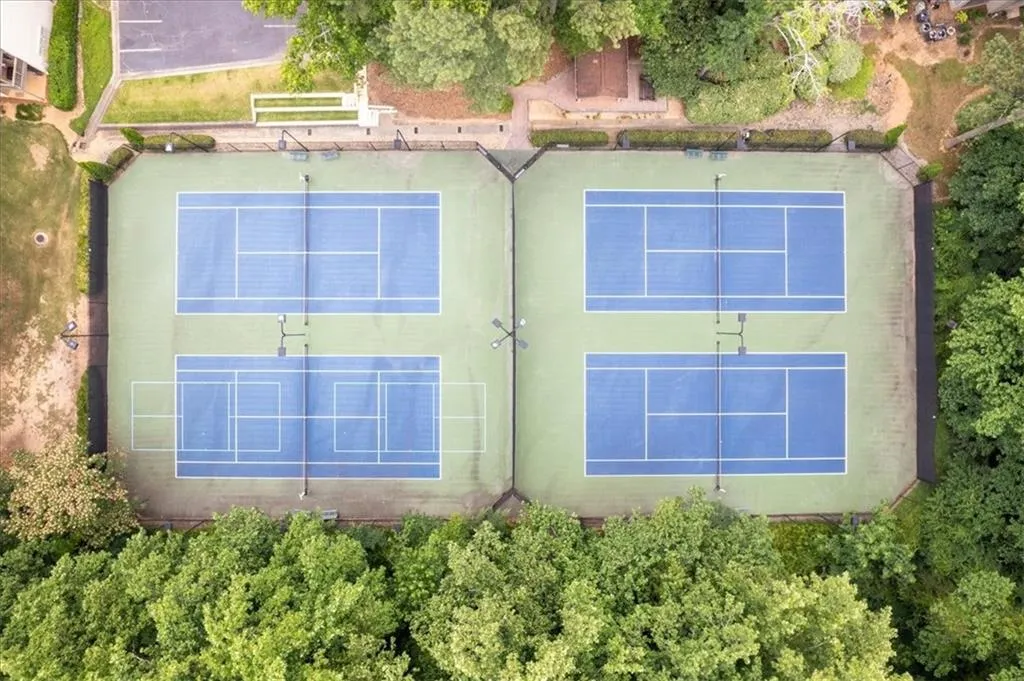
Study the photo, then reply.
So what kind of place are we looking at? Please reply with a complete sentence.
It's a sports ground.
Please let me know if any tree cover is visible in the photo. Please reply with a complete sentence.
Yes, tree cover can be seen from above here.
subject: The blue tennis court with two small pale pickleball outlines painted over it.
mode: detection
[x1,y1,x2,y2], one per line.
[108,335,513,519]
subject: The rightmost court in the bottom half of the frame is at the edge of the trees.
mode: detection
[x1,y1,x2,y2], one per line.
[514,335,917,520]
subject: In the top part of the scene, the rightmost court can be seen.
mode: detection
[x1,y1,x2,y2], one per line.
[514,151,916,335]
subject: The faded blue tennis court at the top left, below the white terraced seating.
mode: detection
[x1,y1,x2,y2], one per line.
[108,151,513,335]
